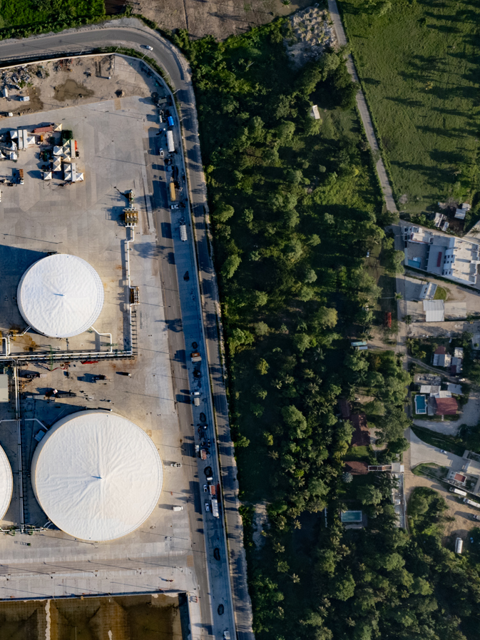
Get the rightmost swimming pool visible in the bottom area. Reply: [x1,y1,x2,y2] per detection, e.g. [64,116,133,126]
[413,394,427,415]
